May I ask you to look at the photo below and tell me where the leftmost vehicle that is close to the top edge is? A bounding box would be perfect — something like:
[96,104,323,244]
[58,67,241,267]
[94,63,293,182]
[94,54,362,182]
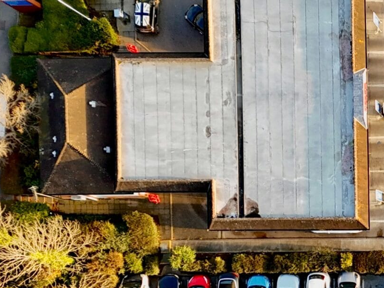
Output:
[136,0,163,34]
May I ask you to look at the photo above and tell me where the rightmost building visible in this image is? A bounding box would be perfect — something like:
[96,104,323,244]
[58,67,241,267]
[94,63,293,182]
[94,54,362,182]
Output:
[35,0,373,233]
